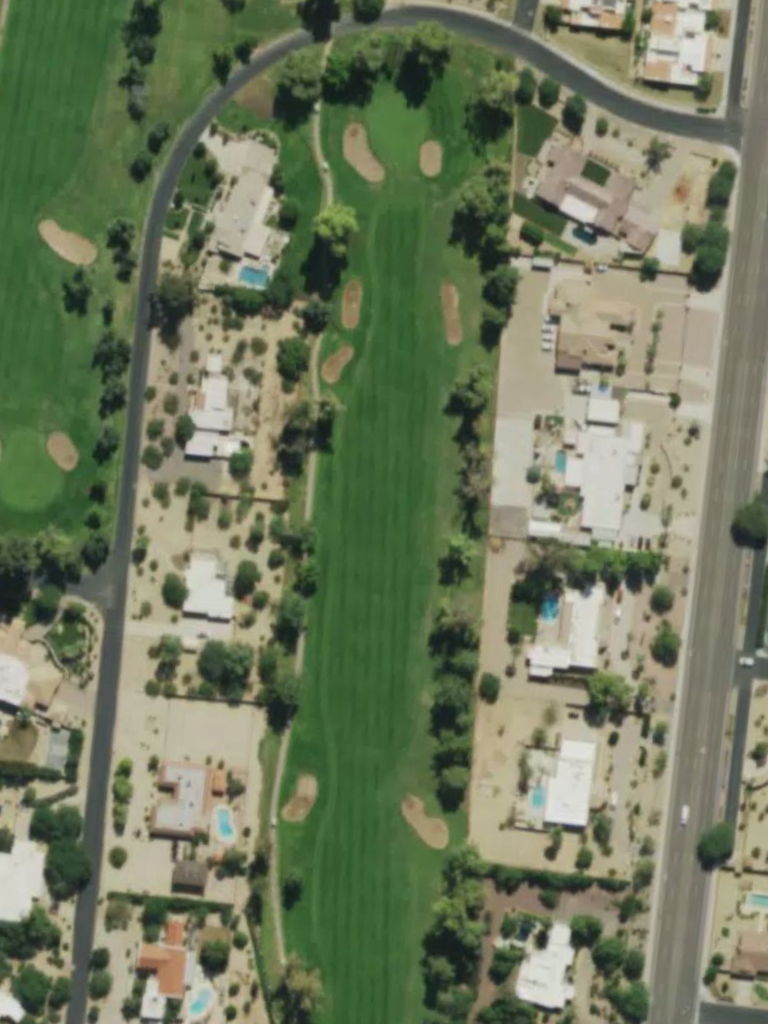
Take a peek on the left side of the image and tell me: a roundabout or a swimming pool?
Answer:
swimming pool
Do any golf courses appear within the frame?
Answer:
Yes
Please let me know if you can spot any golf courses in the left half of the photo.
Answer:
Yes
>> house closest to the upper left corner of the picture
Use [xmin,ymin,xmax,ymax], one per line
[208,172,274,258]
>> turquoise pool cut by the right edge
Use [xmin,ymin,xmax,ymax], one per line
[744,888,768,913]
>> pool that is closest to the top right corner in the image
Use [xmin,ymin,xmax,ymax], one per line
[571,225,599,246]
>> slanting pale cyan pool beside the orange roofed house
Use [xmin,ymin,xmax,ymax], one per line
[186,984,216,1018]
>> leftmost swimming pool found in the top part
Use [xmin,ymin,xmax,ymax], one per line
[239,265,269,289]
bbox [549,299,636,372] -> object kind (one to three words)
house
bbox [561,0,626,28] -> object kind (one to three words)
house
